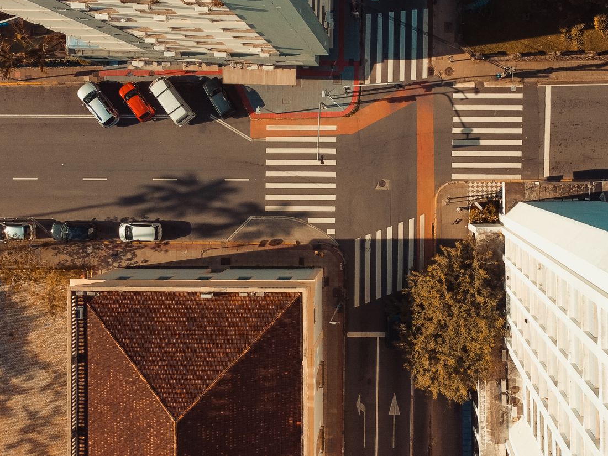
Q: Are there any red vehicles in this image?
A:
Yes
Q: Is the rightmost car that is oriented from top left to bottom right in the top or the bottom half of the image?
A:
top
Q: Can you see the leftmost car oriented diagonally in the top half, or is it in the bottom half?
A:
top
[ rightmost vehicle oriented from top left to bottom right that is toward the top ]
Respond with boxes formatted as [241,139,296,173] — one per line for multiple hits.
[203,74,240,122]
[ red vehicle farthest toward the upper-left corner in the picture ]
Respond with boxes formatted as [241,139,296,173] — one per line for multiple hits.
[120,81,157,124]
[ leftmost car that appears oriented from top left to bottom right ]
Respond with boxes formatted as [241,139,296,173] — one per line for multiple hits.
[78,81,122,130]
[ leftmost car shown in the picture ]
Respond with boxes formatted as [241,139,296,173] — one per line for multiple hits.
[0,221,39,242]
